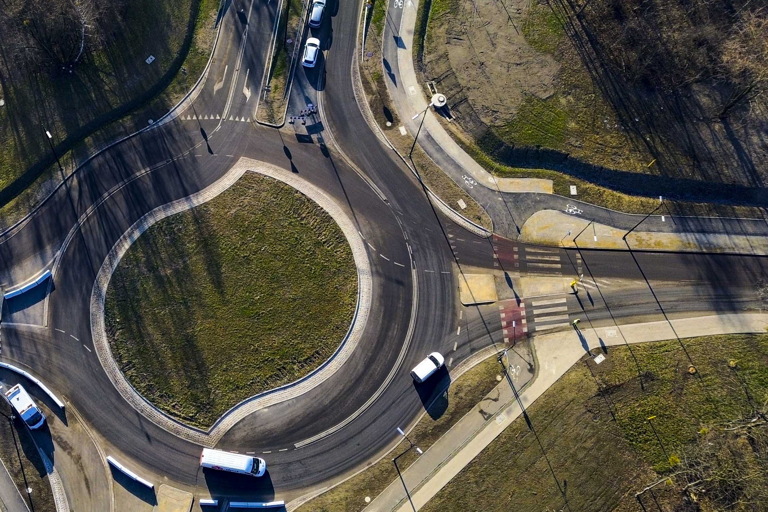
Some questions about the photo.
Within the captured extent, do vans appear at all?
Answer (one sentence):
Yes, there is a van in the image.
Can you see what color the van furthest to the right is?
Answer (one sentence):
In this view, the van furthest to the right is white.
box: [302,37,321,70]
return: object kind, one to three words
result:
car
